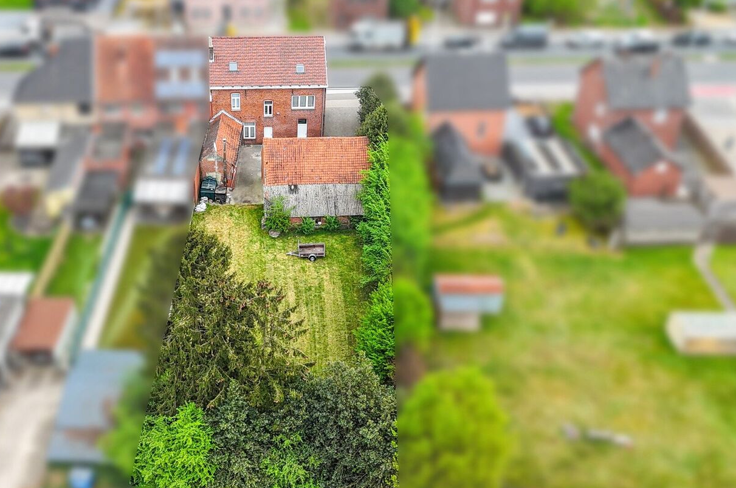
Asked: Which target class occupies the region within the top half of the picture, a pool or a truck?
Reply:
truck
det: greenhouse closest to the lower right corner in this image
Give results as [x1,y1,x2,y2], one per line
[662,318,736,352]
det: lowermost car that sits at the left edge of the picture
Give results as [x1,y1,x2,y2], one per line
[0,41,35,60]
